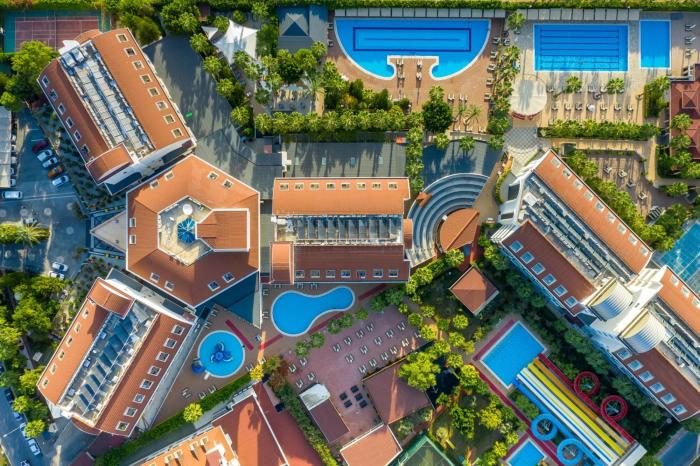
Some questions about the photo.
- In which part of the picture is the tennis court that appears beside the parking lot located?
top left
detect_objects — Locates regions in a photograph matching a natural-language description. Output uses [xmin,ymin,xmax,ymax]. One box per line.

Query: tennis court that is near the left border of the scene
[3,9,109,60]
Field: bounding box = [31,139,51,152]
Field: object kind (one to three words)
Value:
vehicle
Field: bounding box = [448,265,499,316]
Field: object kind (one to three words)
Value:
building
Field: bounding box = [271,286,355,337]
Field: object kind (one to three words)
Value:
swimming pool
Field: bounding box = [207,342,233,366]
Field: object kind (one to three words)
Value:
fountain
